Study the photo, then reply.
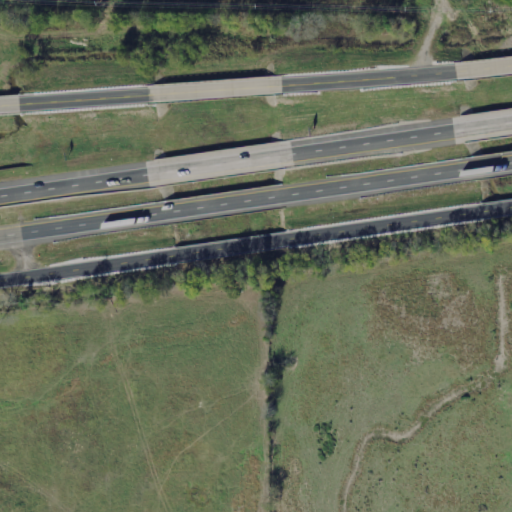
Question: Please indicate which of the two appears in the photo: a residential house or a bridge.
bridge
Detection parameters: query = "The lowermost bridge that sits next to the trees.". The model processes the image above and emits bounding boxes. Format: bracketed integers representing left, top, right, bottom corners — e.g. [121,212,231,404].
[172,230,288,265]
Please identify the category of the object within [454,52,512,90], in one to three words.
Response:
bridge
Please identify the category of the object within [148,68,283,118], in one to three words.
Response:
bridge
